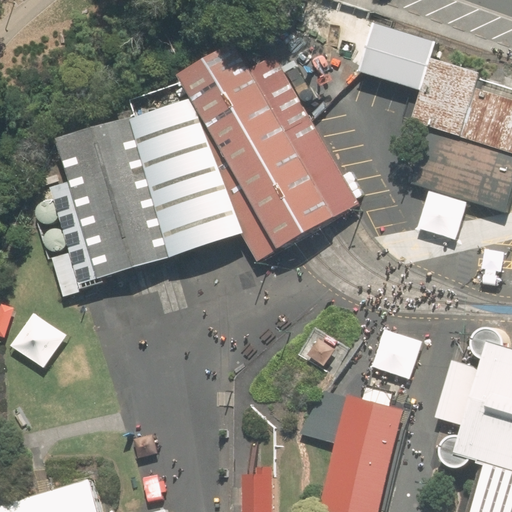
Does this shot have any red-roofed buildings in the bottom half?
Yes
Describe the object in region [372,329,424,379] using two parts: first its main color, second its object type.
white tent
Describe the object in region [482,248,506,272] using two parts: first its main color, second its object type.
white tent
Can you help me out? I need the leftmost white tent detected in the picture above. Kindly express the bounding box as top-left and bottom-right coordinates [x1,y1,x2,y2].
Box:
[11,314,70,367]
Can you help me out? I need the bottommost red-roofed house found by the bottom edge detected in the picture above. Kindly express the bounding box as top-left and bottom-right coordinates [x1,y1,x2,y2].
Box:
[242,467,276,512]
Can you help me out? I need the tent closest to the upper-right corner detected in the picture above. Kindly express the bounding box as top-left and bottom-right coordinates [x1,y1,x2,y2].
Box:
[418,191,468,240]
